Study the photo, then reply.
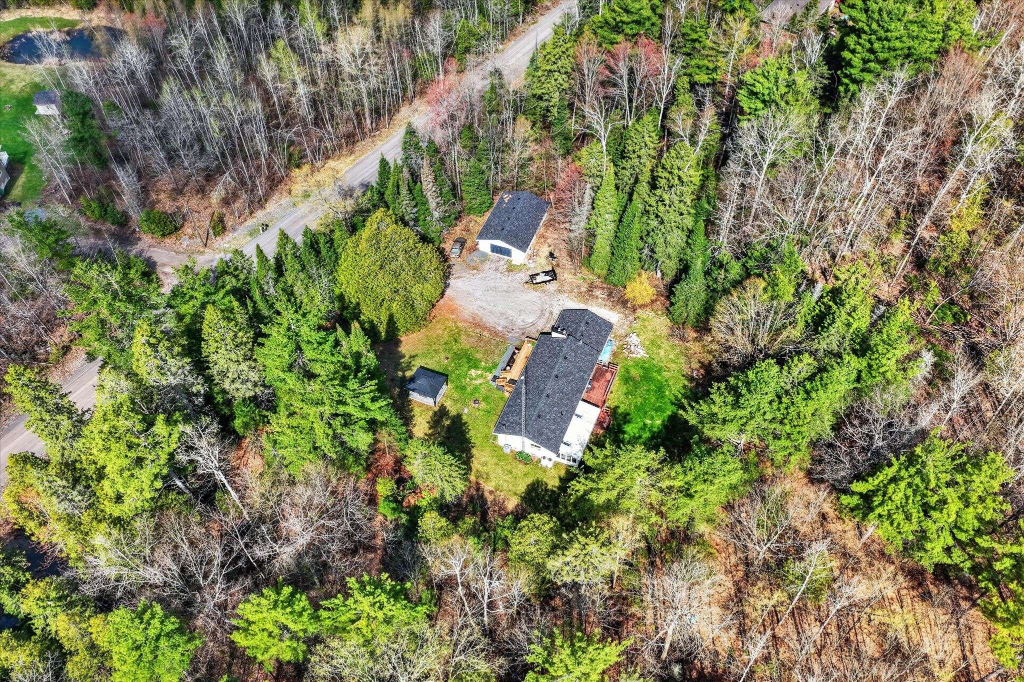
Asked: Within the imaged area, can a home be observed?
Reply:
Yes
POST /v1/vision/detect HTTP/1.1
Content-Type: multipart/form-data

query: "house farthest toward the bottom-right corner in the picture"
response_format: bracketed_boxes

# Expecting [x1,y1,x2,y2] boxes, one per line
[494,311,613,469]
